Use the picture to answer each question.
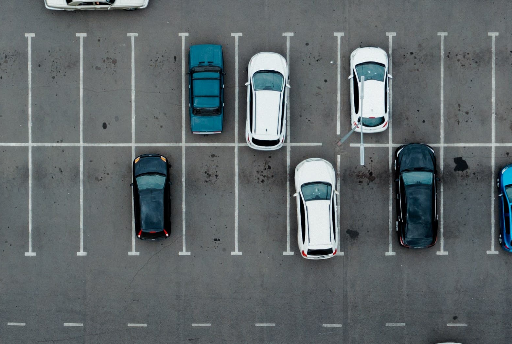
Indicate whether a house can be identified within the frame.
No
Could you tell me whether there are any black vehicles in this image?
Yes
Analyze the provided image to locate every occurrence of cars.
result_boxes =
[291,158,342,260]
[243,51,294,151]
[184,43,228,134]
[127,153,175,241]
[496,164,512,252]
[43,0,150,14]
[392,143,445,248]
[346,46,396,134]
